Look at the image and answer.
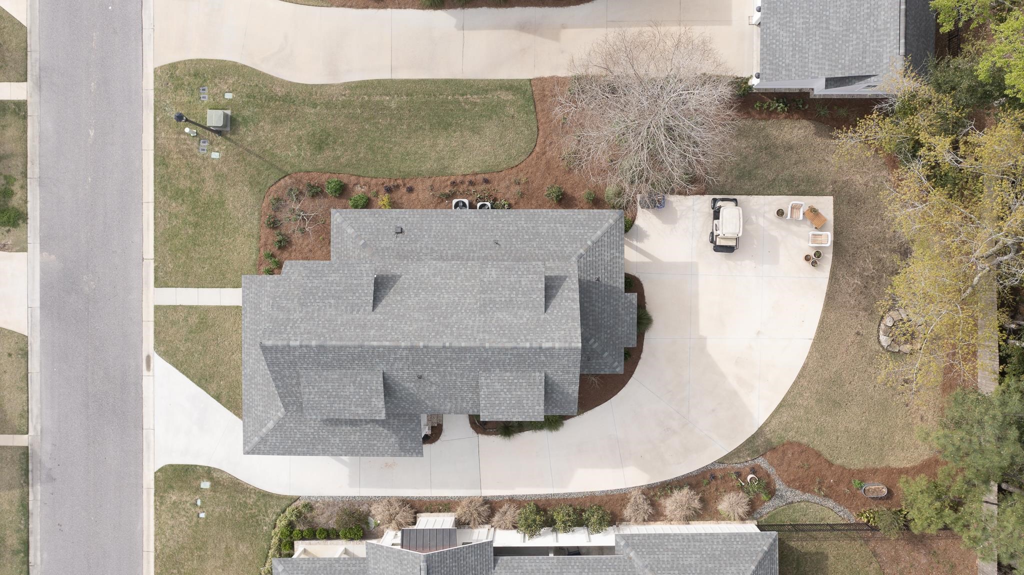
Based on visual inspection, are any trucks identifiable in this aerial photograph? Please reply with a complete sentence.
No, there is no truck in the image.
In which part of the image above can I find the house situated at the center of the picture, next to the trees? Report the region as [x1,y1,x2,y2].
[242,208,637,458]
